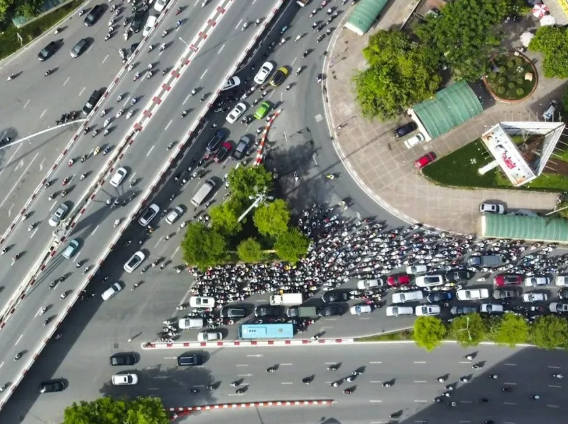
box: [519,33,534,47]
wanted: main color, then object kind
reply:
white umbrella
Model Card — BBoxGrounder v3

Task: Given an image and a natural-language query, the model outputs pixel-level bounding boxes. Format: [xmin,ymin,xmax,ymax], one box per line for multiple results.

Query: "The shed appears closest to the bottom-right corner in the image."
[477,215,568,244]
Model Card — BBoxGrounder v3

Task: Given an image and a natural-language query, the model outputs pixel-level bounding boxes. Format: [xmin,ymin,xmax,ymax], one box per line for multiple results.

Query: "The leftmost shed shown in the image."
[13,0,80,30]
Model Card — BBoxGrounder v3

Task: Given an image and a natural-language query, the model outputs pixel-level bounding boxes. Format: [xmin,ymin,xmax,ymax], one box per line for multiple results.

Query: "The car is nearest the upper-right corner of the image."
[540,101,559,122]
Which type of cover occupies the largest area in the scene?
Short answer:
paved ground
